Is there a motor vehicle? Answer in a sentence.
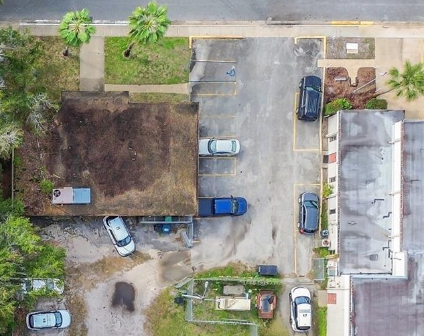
Yes, there's a motor vehicle down there.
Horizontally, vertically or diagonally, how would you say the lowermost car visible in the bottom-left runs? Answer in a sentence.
The lowermost car visible in the bottom-left runs horizontally in the image.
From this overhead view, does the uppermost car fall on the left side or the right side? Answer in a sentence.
The uppermost car appears in the right half of the scene.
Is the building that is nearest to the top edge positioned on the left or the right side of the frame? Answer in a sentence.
The building that is nearest to the top edge sits on the left side.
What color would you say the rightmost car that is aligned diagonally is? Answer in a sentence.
The color of the rightmost car that is aligned diagonally is white.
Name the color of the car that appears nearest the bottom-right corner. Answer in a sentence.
The car that appears nearest the bottom-right corner looks white in the image.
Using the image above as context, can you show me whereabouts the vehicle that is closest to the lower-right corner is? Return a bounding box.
[287,286,312,332]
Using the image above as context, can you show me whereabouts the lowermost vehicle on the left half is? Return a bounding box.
[25,309,70,331]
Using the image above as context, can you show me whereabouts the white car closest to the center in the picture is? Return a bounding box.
[199,137,239,158]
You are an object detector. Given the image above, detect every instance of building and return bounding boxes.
[19,91,199,216]
[325,109,424,336]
